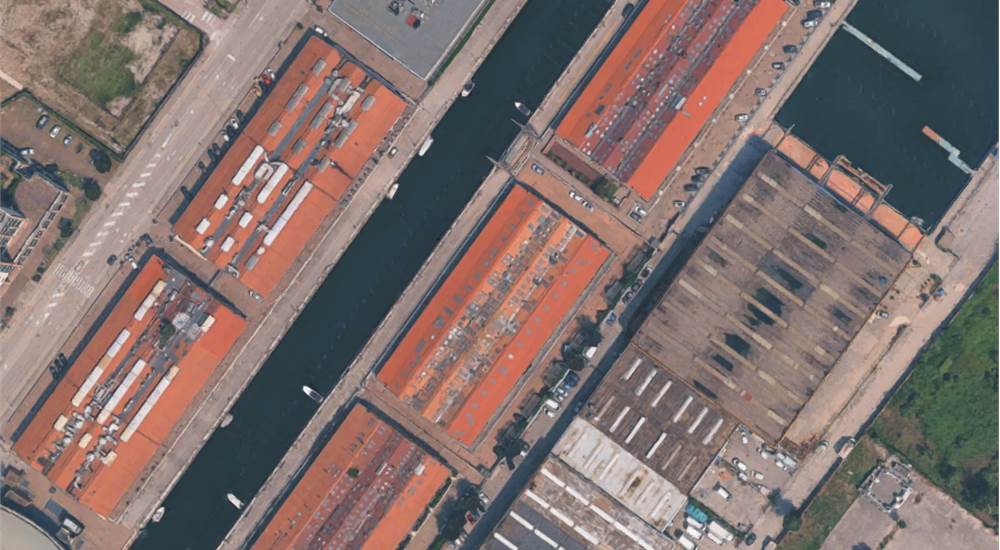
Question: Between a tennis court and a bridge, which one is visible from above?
bridge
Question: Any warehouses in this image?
Yes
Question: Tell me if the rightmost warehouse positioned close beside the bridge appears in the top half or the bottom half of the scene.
top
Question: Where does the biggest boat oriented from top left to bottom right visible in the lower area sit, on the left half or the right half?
left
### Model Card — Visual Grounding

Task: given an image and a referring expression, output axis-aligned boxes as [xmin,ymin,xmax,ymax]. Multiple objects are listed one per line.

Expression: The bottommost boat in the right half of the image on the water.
[909,214,924,227]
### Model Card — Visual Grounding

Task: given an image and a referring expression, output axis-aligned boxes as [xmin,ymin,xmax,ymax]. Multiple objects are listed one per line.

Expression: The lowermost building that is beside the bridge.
[374,182,619,450]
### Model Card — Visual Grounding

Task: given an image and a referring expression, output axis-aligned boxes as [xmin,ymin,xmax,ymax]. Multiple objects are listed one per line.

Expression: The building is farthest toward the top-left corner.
[0,138,35,190]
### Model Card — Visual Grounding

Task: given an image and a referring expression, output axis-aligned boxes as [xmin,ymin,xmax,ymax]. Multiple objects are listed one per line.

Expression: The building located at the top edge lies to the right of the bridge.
[542,0,799,213]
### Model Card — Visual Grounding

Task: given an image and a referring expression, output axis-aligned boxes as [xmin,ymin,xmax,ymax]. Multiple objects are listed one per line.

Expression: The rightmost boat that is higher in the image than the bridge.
[516,101,531,116]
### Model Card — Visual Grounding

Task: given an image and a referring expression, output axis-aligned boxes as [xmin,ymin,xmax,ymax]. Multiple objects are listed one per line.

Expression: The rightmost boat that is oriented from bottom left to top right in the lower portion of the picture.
[221,415,234,429]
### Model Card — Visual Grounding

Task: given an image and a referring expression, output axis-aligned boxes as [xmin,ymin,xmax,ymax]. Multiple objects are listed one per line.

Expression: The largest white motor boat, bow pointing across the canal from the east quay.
[303,386,323,405]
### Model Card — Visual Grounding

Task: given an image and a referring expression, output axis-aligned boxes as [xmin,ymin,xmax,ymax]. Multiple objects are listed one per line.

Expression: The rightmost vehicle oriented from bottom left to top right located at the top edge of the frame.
[619,4,635,19]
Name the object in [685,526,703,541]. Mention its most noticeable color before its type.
white vehicle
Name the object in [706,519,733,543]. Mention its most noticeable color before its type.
white truck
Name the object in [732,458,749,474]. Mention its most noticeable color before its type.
white vehicle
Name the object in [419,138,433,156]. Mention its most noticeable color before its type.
white boat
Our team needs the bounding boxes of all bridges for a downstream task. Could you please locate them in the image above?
[485,118,547,179]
